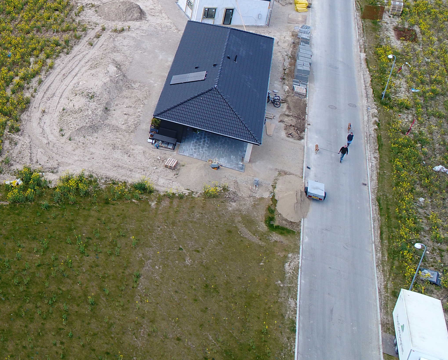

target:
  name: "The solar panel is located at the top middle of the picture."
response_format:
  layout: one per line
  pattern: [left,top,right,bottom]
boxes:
[185,68,204,86]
